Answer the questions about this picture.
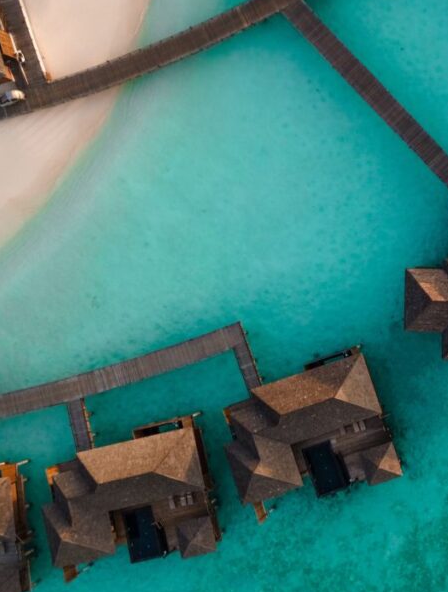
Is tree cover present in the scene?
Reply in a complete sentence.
No, there's no tree cover in this view.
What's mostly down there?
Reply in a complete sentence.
The bulk of the photo consists of water.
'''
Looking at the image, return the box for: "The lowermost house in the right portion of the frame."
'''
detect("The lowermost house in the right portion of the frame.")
[219,343,403,518]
